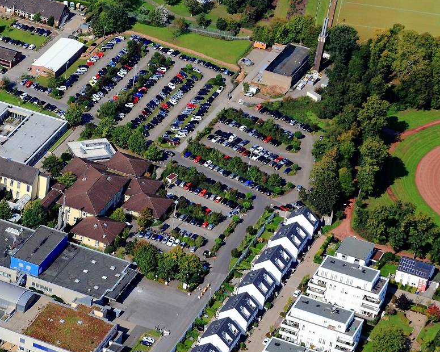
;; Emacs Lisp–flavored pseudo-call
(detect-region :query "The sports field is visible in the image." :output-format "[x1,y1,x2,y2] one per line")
[335,0,440,39]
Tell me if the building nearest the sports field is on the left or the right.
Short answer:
right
